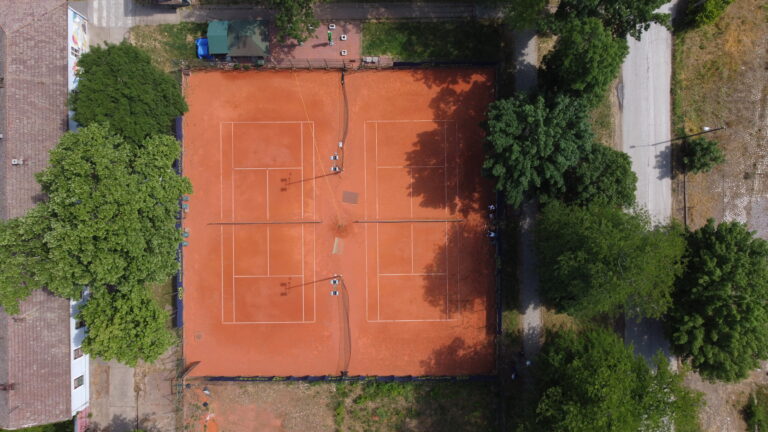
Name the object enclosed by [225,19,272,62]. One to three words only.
building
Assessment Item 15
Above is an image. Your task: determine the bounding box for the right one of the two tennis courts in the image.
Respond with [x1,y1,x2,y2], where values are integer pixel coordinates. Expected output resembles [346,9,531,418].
[340,68,495,376]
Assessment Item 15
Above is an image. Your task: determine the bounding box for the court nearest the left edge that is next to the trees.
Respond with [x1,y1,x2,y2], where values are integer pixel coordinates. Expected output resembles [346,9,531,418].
[183,68,340,376]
